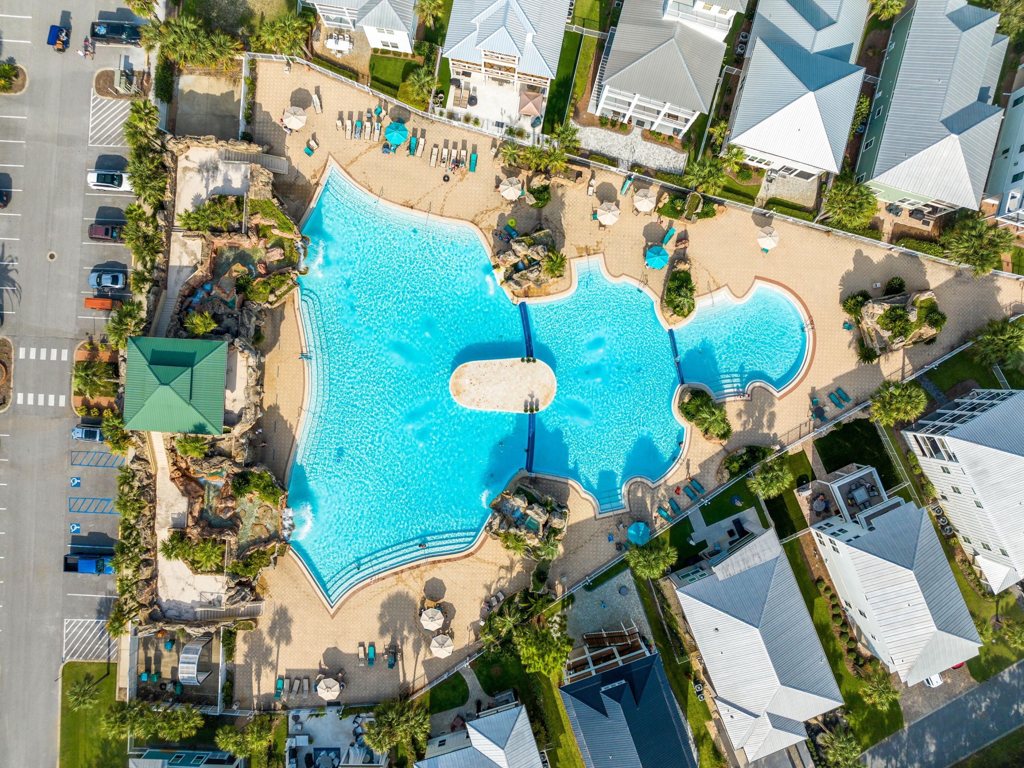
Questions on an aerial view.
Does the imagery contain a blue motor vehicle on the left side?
Yes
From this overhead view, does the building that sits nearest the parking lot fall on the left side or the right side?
left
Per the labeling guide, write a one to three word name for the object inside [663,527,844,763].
house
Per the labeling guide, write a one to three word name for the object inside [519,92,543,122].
tent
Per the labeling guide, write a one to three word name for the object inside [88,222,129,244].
car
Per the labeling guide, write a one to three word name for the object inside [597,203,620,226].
umbrella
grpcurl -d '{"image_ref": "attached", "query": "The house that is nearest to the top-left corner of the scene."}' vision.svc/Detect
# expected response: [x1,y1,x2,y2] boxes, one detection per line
[306,0,421,53]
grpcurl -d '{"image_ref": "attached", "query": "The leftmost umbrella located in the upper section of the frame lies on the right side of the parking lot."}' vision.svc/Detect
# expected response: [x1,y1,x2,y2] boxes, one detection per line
[284,107,308,131]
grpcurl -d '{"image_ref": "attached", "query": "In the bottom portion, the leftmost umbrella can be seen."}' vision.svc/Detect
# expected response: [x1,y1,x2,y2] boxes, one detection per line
[318,676,341,700]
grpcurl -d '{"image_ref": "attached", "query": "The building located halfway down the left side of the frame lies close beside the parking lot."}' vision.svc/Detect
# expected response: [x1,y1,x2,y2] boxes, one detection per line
[123,336,239,436]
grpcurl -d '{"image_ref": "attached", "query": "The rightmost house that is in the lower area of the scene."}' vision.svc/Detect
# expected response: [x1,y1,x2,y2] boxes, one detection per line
[901,383,1024,592]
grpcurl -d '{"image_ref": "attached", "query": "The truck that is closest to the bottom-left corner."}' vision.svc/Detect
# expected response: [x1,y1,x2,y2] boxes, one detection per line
[63,551,115,575]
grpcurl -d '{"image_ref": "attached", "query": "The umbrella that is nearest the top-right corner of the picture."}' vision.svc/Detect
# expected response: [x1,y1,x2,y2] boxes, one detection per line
[755,227,778,250]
